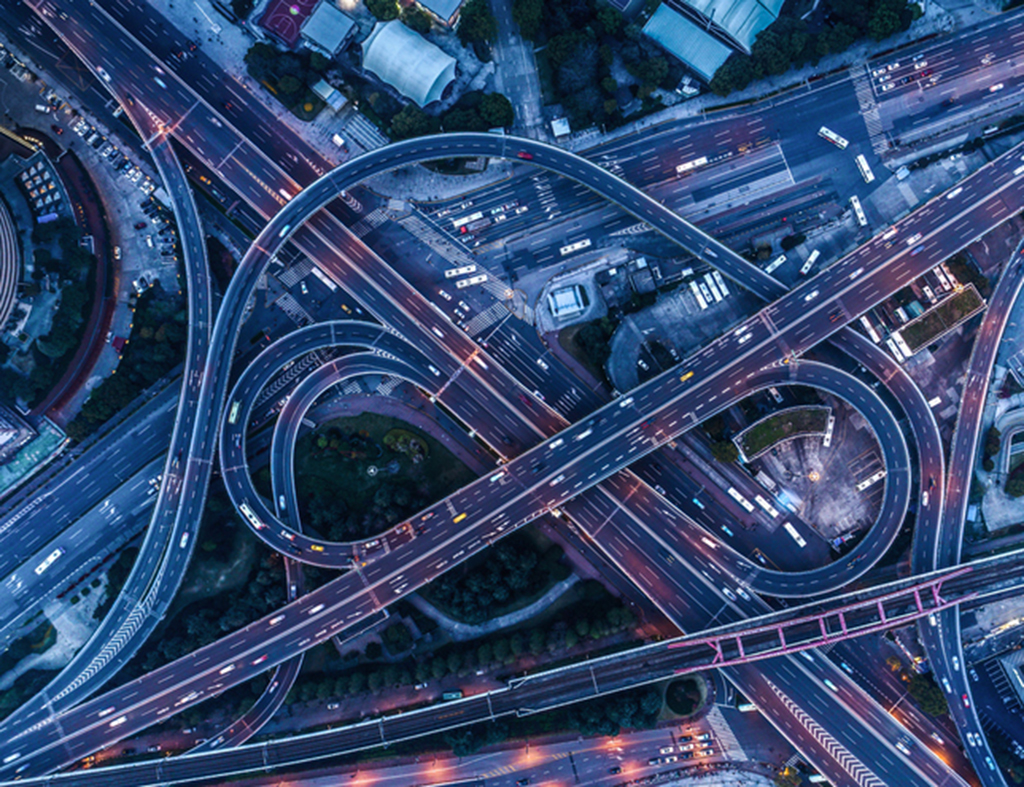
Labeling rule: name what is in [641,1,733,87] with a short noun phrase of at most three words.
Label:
building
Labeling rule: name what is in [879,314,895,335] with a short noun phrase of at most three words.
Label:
vehicle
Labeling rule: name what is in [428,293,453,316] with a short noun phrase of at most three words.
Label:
truck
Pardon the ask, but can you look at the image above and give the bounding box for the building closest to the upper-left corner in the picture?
[0,150,81,227]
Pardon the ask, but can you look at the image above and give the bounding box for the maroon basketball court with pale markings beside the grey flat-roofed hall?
[258,0,324,44]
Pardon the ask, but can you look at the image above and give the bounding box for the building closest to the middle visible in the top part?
[549,286,586,317]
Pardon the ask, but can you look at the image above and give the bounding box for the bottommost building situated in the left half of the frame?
[334,604,390,643]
